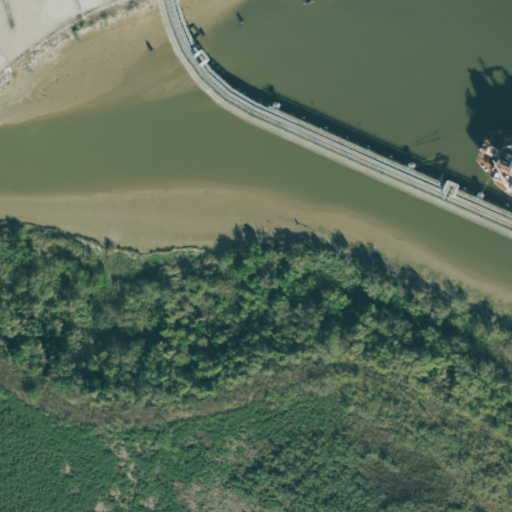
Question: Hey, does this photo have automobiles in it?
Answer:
No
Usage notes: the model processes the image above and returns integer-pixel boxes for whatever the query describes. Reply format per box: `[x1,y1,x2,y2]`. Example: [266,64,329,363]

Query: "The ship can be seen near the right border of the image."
[478,130,512,196]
